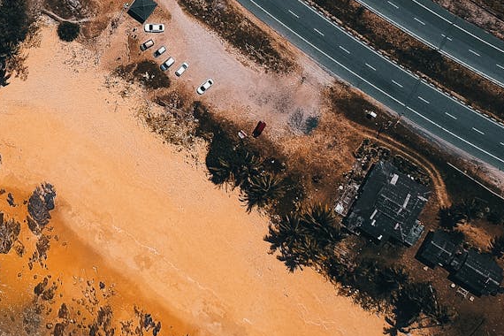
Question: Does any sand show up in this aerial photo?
Yes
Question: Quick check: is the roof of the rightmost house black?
Yes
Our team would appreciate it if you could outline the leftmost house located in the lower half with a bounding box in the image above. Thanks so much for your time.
[338,159,430,252]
